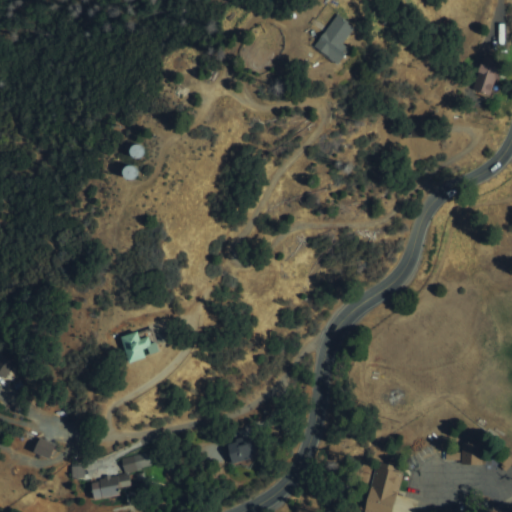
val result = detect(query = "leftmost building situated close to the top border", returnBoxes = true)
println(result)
[313,14,352,63]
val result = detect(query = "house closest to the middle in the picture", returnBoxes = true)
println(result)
[121,332,160,363]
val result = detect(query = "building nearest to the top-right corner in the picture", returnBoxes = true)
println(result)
[472,62,499,96]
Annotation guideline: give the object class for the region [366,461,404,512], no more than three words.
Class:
building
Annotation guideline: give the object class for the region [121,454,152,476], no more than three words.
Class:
building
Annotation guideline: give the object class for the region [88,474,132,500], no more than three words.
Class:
house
